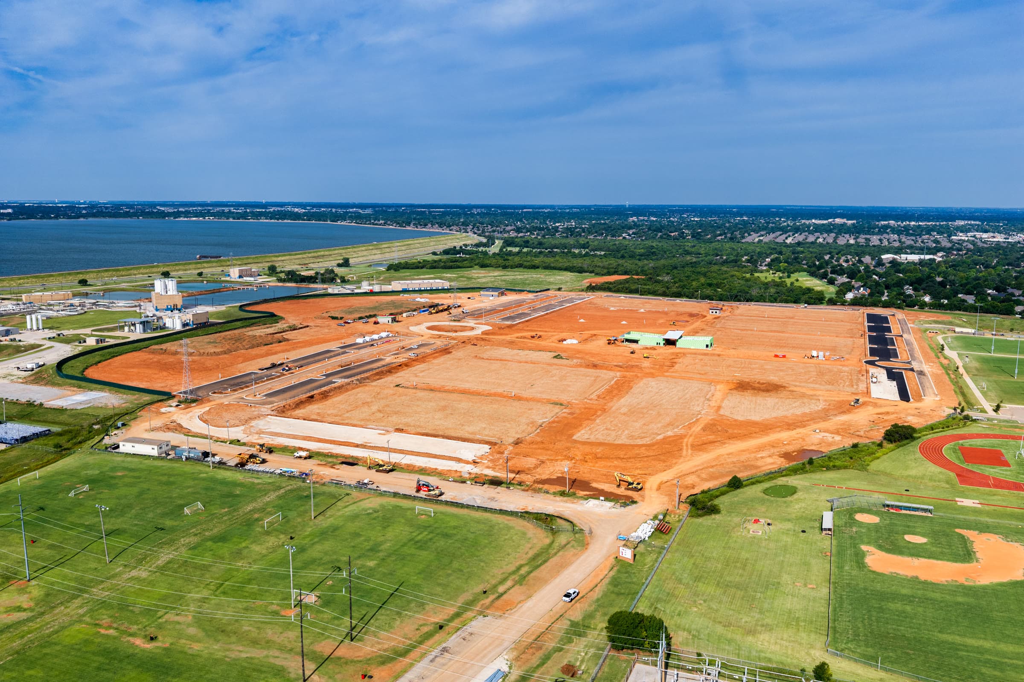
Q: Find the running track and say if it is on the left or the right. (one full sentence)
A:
The running track appears in the right half of the scene.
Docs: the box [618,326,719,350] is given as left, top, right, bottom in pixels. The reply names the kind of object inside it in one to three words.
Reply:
building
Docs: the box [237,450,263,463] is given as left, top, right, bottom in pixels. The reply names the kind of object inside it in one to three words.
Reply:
vehicle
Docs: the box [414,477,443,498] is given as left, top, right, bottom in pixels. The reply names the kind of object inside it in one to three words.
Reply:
work vehicle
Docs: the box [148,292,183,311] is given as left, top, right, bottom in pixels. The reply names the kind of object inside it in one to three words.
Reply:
house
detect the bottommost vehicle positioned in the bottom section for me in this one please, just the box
[561,590,579,603]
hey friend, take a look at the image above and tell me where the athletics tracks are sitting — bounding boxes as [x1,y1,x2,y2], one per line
[914,432,1024,495]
